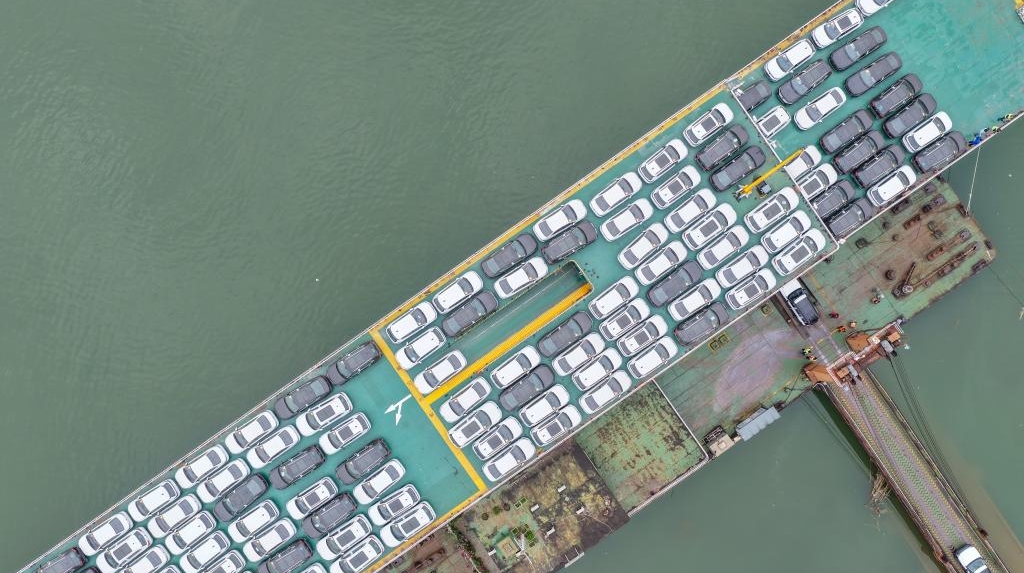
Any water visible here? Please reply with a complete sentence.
Yes, some water is visible.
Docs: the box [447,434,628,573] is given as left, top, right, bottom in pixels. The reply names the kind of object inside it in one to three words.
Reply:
boat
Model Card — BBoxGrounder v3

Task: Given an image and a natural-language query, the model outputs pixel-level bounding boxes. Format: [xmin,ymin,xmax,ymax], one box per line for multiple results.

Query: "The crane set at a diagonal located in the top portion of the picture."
[729,151,804,202]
